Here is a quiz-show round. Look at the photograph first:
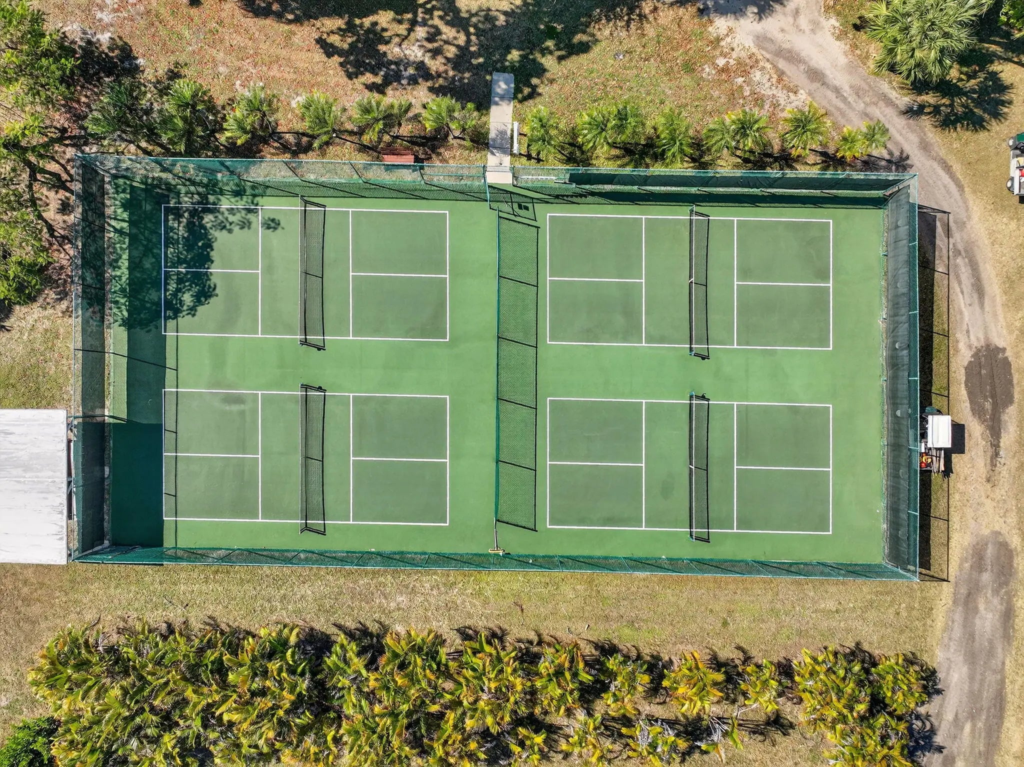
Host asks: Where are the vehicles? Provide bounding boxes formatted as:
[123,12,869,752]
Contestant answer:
[909,405,951,471]
[1006,133,1024,197]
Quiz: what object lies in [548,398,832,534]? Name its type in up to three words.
sports court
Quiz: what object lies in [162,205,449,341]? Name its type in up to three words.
sports court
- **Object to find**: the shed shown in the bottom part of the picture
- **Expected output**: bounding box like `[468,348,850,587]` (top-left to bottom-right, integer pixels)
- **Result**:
[0,408,82,565]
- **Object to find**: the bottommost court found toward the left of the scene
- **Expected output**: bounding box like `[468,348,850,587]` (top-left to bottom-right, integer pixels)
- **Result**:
[163,389,449,526]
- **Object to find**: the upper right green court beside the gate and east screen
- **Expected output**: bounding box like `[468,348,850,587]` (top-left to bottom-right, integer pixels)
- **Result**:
[548,214,832,349]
